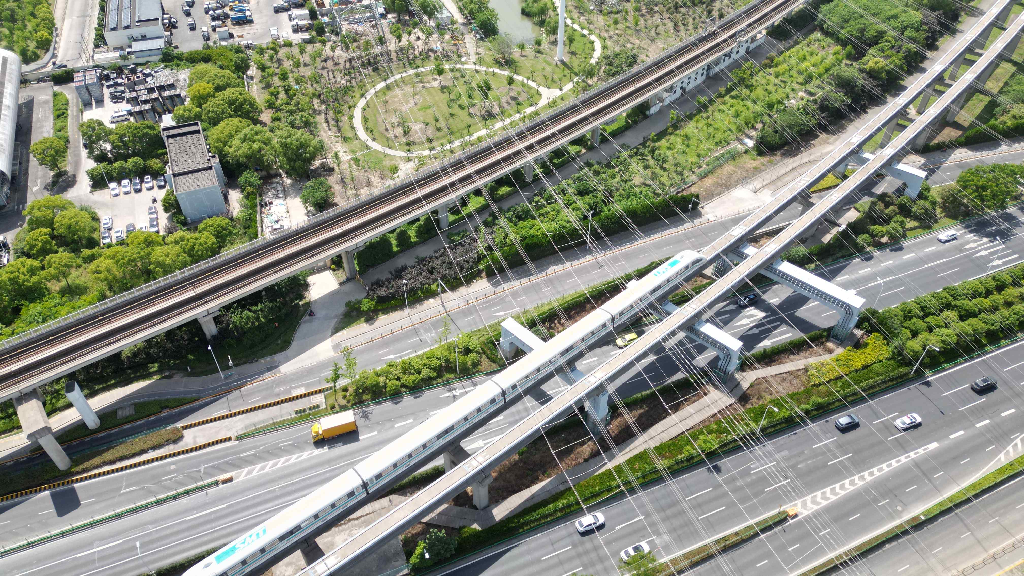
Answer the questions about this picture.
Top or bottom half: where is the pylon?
top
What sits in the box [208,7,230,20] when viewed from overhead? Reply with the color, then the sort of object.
gray vehicle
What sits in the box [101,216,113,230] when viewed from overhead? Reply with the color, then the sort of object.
white vehicle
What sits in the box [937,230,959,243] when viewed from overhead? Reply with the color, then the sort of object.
white vehicle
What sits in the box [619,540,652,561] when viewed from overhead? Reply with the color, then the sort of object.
white car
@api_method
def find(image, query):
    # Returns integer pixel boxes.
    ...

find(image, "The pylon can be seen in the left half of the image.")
[337,0,389,51]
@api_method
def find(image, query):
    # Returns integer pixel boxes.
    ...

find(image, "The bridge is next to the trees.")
[0,0,809,402]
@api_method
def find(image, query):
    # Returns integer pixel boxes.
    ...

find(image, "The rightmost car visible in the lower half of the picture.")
[970,378,998,394]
